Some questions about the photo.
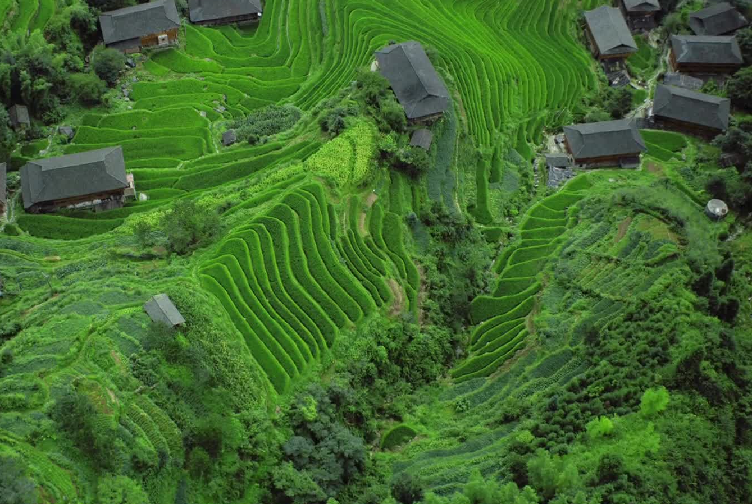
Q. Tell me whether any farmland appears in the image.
Yes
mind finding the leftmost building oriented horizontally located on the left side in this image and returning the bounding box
[17,146,137,221]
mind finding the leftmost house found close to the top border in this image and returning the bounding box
[93,0,186,56]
